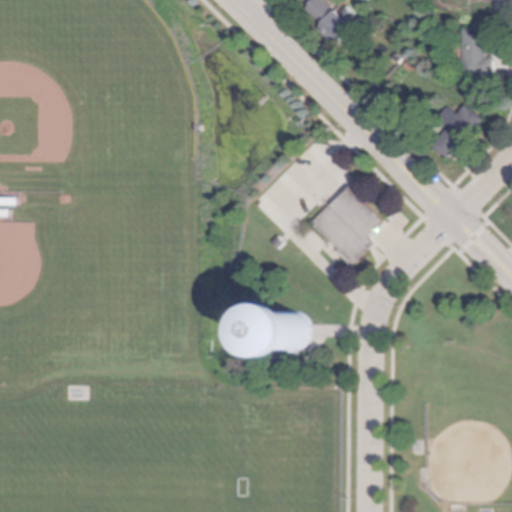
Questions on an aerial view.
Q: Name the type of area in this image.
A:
sports ground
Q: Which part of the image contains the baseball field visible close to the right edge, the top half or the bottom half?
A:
bottom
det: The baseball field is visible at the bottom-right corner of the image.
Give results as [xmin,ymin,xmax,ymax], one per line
[428,402,512,502]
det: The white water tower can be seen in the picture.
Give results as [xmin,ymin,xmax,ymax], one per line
[216,302,312,360]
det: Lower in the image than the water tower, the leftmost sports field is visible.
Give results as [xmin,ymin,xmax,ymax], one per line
[0,378,338,512]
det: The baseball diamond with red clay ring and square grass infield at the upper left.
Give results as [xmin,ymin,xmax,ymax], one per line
[0,0,195,212]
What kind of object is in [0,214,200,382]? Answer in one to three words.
baseball field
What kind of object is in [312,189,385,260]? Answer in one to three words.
building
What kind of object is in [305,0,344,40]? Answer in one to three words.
house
